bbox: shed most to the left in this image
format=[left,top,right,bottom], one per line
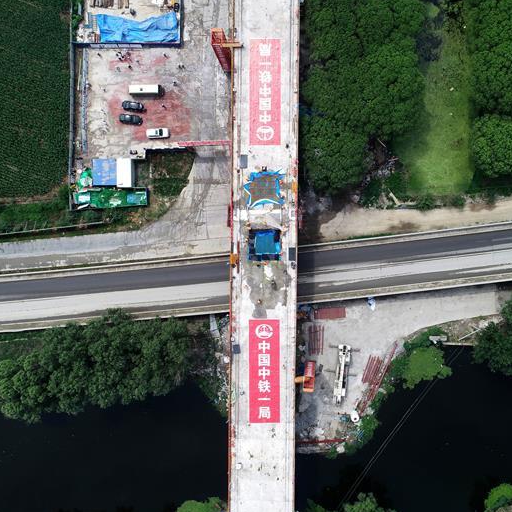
[92,159,117,188]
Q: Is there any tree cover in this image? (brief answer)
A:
Yes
